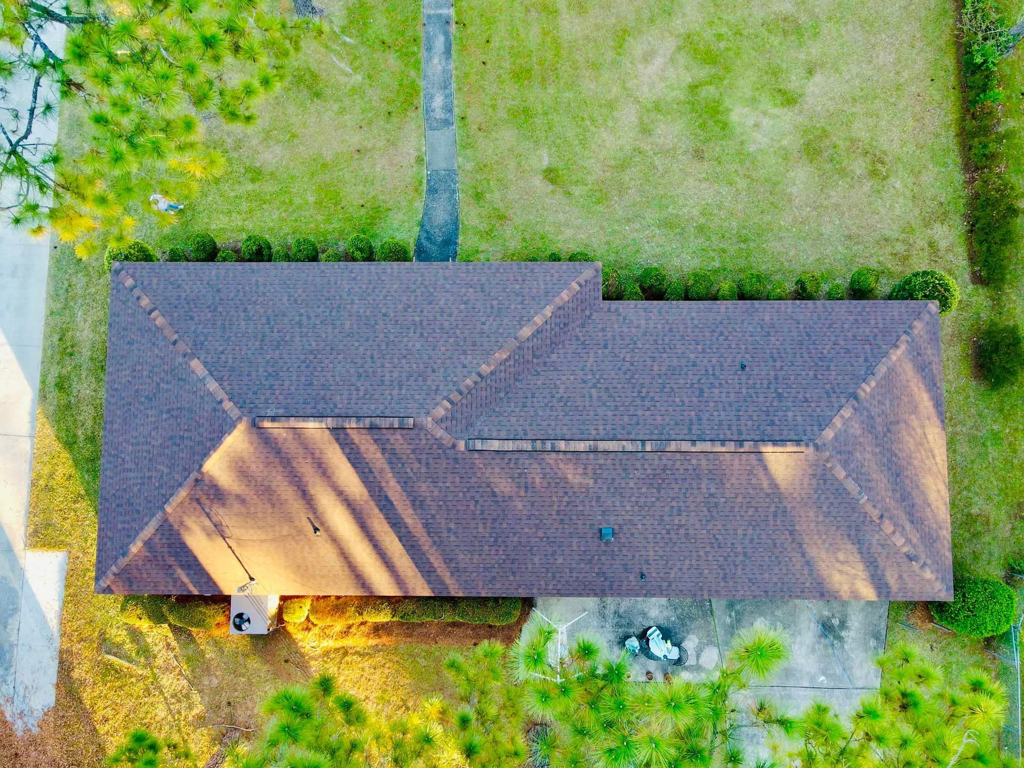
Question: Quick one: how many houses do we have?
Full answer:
The picture shows just 1 house.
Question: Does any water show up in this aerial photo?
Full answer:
No, there is no water in the image.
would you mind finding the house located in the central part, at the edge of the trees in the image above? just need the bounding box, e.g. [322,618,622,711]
[92,259,955,602]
